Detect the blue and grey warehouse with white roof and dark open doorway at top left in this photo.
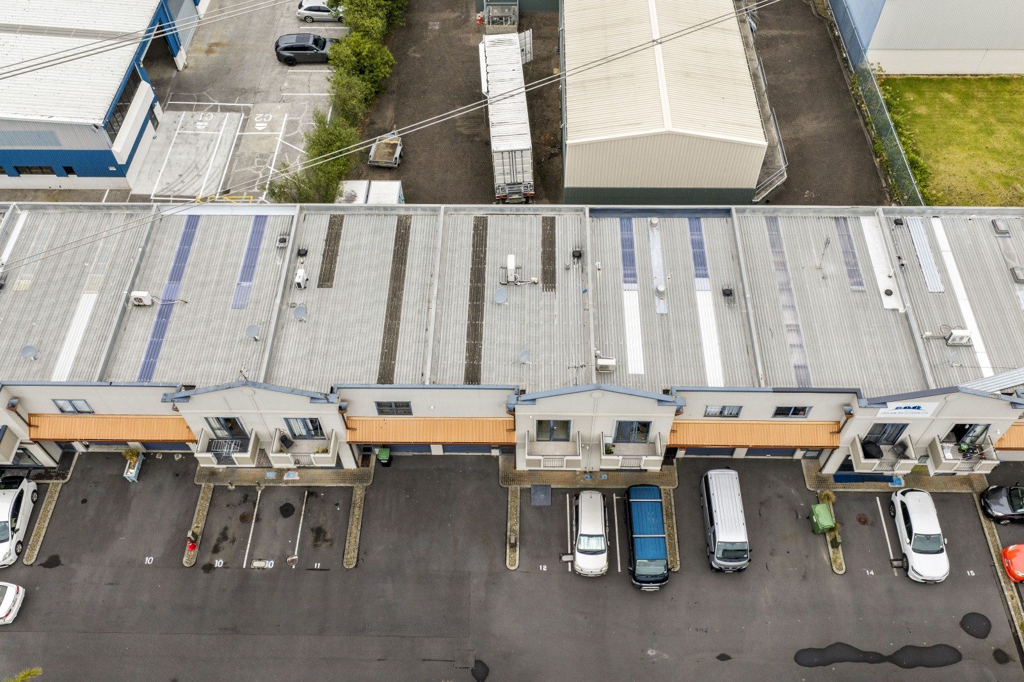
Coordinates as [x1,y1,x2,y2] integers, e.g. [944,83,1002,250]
[0,0,196,189]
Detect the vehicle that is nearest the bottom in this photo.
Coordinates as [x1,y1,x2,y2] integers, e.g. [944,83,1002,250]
[0,586,27,627]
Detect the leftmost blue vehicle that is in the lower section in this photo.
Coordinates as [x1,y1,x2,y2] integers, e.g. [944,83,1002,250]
[625,486,671,588]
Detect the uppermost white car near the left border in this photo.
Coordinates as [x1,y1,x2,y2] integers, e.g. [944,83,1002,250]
[0,483,37,567]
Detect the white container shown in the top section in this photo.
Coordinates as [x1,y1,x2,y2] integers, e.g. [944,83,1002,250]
[478,29,533,184]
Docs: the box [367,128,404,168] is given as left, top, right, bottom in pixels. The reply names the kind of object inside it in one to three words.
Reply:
trailer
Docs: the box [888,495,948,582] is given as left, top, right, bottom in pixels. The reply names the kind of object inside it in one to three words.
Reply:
car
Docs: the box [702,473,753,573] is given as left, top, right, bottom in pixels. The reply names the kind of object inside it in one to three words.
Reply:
van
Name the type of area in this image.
industrial area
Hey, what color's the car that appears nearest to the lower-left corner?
white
